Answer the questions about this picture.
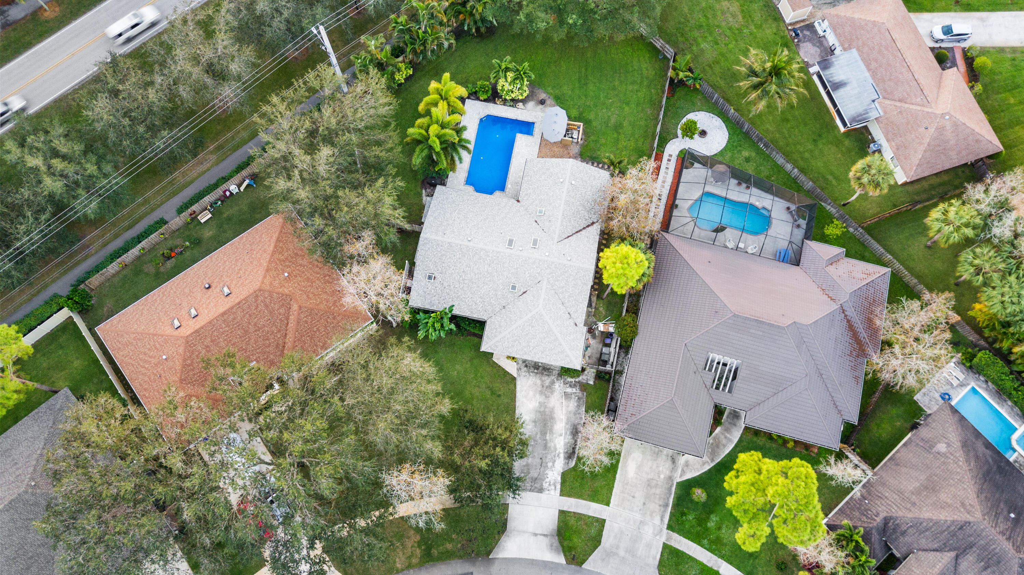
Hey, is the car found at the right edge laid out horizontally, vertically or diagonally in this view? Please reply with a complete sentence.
The car found at the right edge has been laid out horizontally relative to the frame.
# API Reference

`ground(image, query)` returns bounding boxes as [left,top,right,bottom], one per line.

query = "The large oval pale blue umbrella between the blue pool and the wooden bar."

[543,108,567,141]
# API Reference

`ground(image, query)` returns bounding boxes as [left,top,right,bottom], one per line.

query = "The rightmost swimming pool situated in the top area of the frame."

[689,192,771,234]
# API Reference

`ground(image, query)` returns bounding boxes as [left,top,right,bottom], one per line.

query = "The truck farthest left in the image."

[0,93,26,122]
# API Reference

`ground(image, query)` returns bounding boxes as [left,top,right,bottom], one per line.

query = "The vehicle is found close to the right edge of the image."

[935,20,977,41]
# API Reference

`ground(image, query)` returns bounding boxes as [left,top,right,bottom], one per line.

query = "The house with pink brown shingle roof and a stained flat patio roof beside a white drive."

[811,0,1004,188]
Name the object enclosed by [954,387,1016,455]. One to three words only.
swimming pool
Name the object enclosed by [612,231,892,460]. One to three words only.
house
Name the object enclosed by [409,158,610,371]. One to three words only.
house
